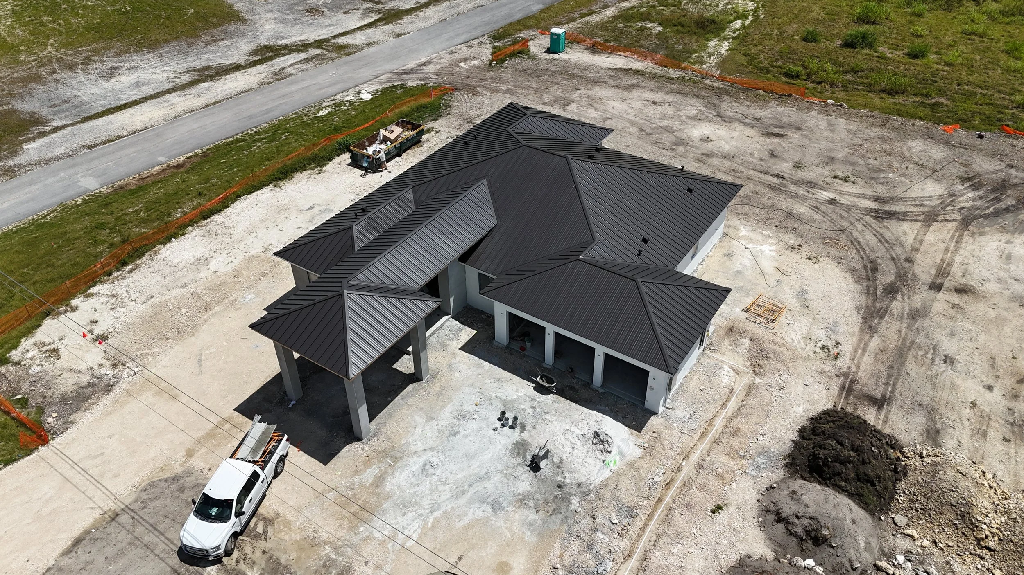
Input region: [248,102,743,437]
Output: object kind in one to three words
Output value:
house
